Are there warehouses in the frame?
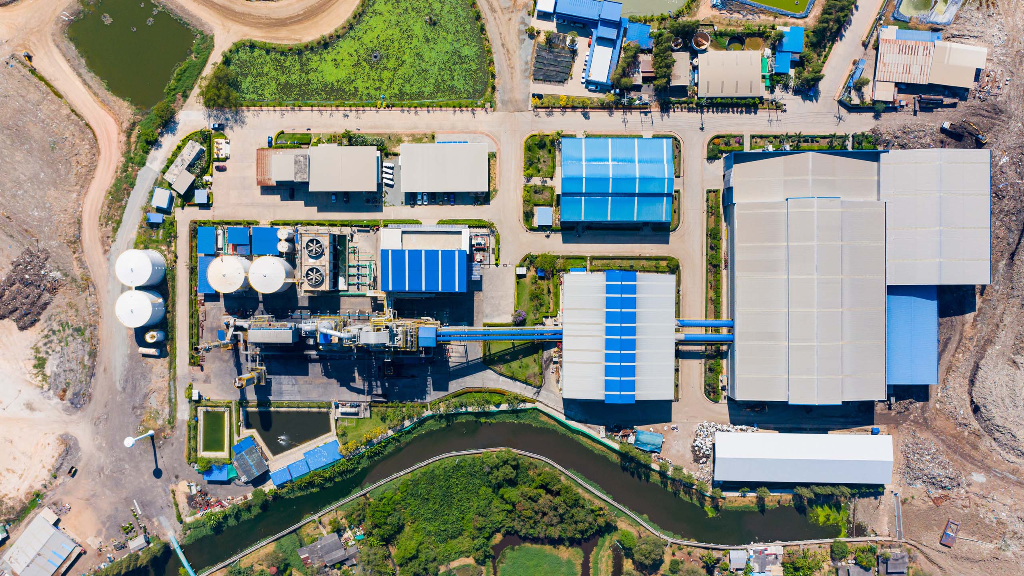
Yes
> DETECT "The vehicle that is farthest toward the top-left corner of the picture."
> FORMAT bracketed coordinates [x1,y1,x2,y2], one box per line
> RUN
[18,49,34,71]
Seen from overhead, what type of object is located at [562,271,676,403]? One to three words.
warehouse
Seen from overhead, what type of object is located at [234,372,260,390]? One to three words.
silo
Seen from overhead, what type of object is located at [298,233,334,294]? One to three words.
cooling tower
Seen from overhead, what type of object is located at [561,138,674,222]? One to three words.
building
